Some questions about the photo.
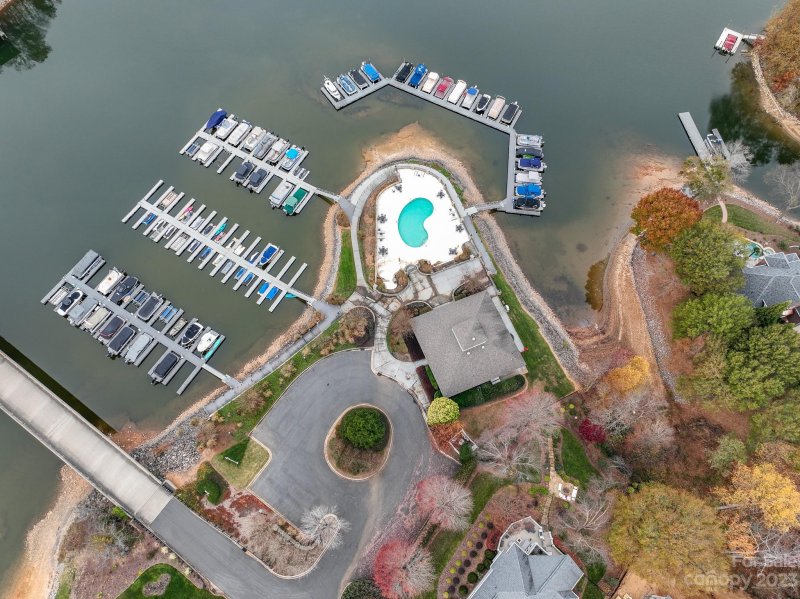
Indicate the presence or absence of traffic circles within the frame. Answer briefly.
Yes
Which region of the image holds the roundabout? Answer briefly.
bottom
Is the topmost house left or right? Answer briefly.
right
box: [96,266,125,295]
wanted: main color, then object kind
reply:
white boat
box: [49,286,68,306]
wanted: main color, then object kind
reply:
white boat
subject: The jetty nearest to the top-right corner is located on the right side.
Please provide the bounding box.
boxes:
[702,26,766,70]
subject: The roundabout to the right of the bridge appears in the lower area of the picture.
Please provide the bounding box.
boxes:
[323,402,393,481]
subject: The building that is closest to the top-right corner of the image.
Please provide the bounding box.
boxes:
[742,251,800,317]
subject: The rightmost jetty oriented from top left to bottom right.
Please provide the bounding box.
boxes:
[680,110,739,185]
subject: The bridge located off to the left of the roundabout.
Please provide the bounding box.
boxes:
[0,344,174,523]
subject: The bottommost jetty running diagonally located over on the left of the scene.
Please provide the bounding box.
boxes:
[41,258,238,396]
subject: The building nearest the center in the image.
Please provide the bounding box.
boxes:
[411,291,527,398]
